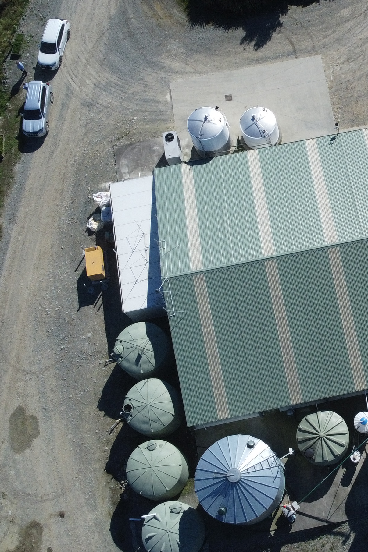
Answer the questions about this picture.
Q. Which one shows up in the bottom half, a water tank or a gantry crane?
water tank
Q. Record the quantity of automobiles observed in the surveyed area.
2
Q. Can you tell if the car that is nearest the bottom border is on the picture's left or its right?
left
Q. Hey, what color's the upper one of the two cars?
white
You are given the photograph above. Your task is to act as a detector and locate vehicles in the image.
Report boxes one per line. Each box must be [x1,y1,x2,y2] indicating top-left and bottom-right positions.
[35,19,71,74]
[19,84,56,143]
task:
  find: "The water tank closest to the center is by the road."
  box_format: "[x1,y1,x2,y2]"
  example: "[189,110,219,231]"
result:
[110,324,174,380]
